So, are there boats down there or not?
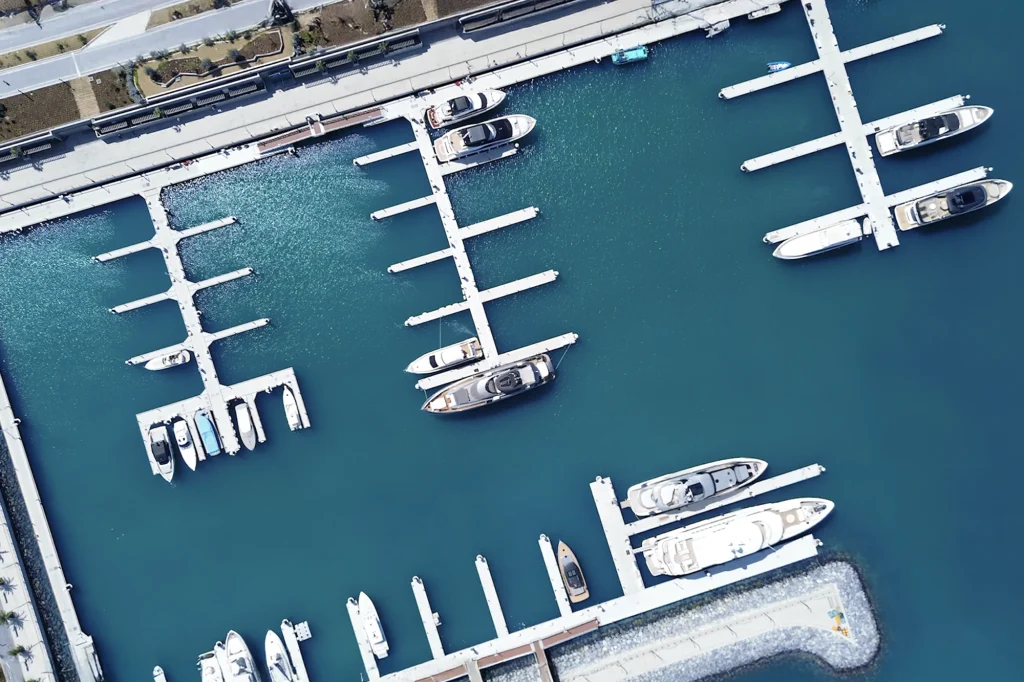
Yes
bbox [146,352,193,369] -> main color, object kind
white boat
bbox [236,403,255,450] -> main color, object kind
white boat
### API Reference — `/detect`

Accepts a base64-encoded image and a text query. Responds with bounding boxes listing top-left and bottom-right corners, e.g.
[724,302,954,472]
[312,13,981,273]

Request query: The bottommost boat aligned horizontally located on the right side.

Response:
[631,499,834,580]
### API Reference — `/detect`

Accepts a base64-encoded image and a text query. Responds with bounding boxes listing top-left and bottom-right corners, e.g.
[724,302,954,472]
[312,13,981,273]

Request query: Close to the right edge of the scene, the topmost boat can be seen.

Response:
[871,107,995,157]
